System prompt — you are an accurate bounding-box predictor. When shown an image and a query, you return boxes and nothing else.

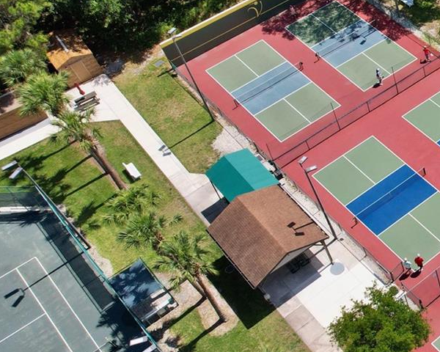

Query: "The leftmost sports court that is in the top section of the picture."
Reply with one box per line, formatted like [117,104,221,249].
[204,40,341,142]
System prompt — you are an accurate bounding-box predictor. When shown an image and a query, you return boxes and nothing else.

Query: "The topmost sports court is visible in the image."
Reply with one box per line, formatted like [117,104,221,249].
[284,0,416,91]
